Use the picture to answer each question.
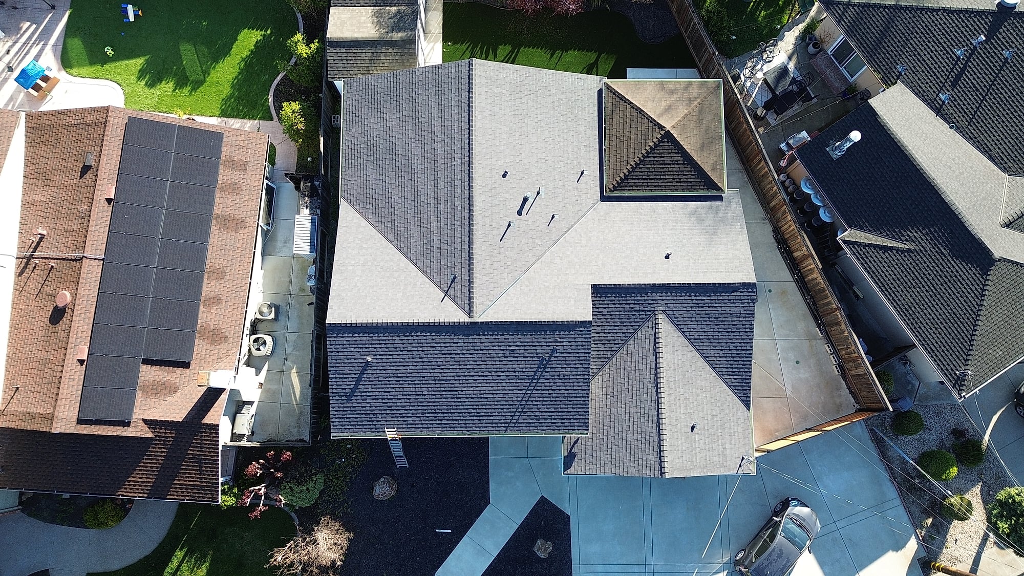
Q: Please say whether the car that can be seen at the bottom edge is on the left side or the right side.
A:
right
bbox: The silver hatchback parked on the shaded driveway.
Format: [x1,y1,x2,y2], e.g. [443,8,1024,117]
[732,499,822,576]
